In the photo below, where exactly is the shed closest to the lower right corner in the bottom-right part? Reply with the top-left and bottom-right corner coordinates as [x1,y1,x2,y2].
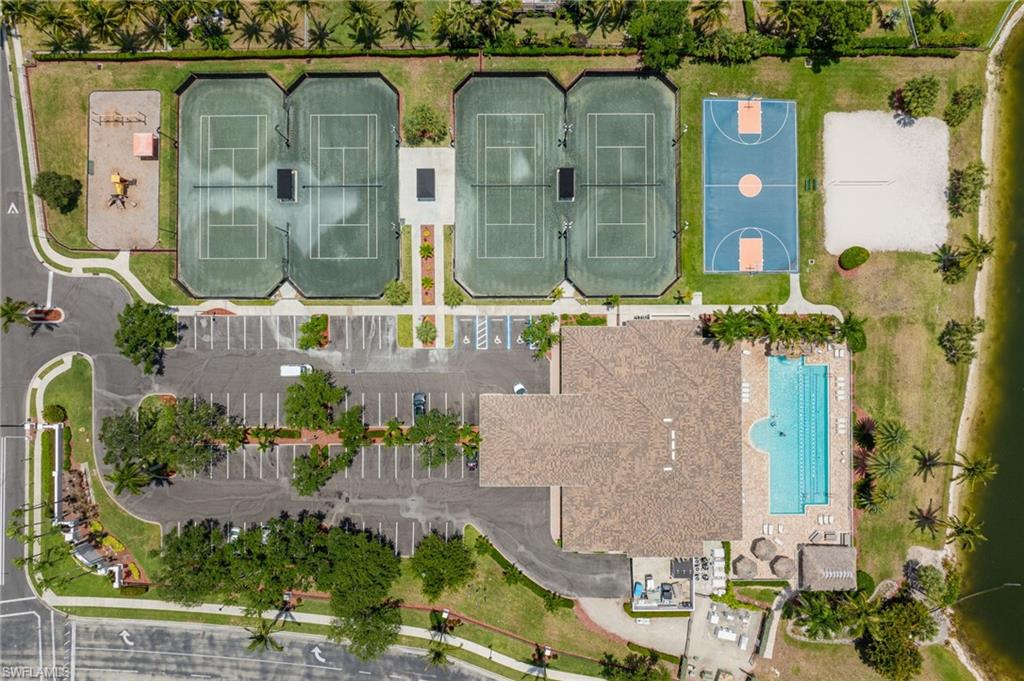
[795,542,858,591]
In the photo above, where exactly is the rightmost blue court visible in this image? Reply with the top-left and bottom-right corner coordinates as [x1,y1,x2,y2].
[704,99,799,273]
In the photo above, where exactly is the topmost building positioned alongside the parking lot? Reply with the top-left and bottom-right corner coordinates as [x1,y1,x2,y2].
[479,320,742,559]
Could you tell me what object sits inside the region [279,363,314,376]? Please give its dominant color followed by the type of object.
white vehicle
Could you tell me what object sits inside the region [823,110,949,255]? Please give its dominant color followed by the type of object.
white sports court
